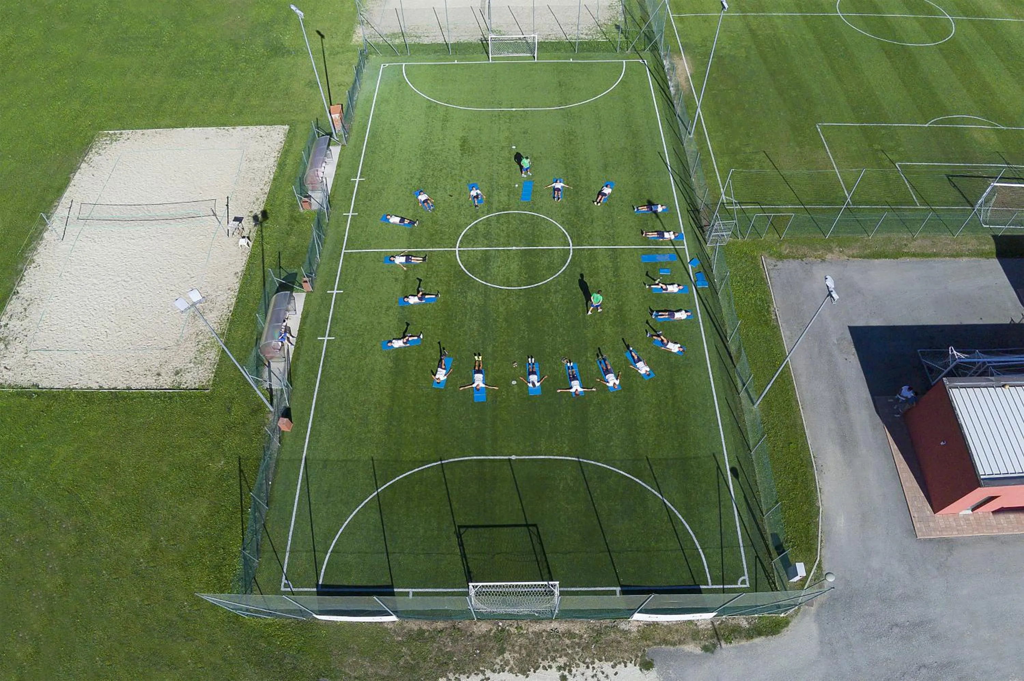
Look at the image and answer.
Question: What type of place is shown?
sports ground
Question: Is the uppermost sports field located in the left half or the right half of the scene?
right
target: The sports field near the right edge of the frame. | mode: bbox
[652,0,1024,240]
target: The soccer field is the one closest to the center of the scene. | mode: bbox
[247,56,783,616]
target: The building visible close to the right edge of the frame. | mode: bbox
[905,376,1024,514]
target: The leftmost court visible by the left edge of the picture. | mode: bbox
[0,124,289,392]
